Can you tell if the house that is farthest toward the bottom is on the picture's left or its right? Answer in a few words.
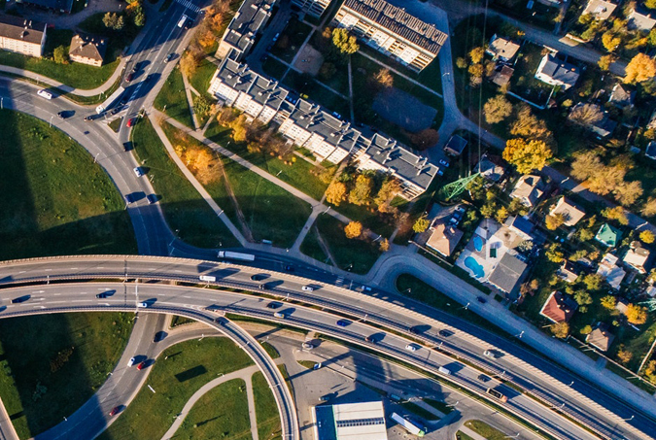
right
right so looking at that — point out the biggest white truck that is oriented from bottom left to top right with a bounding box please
[97,85,124,112]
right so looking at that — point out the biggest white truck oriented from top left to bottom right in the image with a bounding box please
[391,412,424,437]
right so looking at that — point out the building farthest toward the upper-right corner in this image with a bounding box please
[623,9,656,36]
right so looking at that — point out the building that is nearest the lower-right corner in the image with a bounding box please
[579,323,616,357]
